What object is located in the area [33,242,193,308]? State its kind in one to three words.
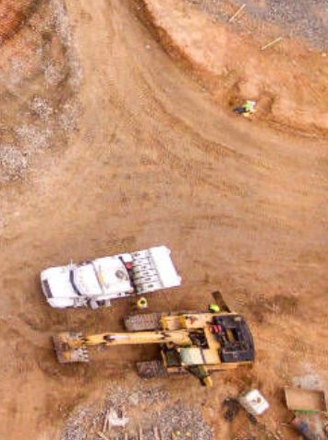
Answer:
truck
